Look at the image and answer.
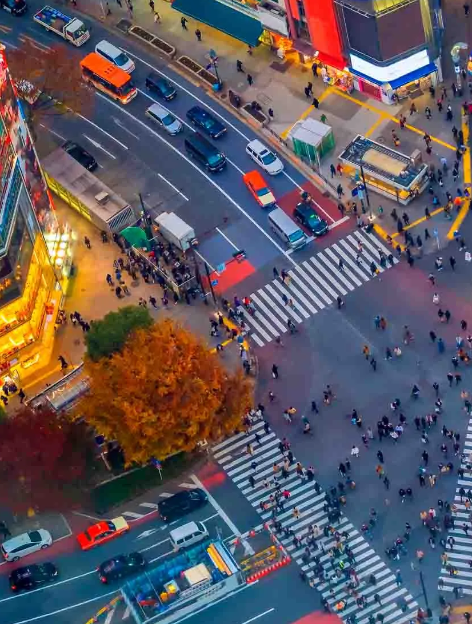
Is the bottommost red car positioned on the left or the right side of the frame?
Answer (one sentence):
It is on the left.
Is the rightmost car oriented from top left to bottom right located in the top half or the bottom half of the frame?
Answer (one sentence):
The rightmost car oriented from top left to bottom right sits in the top half of the picture.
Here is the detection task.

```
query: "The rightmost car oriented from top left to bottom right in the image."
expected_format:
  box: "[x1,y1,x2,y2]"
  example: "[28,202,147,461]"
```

[293,200,330,237]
